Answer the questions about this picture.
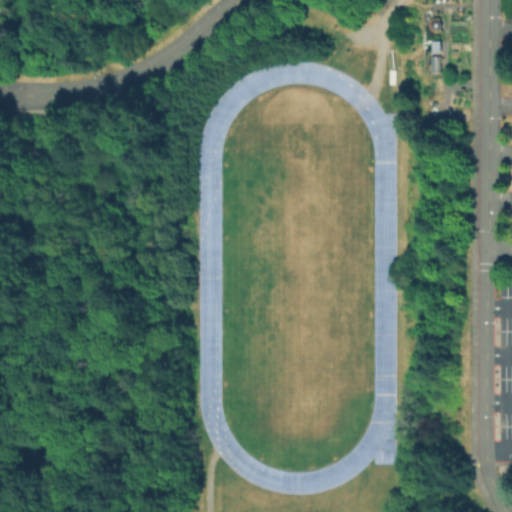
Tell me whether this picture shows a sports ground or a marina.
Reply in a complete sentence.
This image shows a sports ground.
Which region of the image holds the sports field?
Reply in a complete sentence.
The sports field appears toward the center of the photo.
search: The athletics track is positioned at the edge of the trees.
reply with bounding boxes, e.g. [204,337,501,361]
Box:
[201,63,397,494]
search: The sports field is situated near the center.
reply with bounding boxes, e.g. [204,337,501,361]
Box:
[222,84,376,472]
